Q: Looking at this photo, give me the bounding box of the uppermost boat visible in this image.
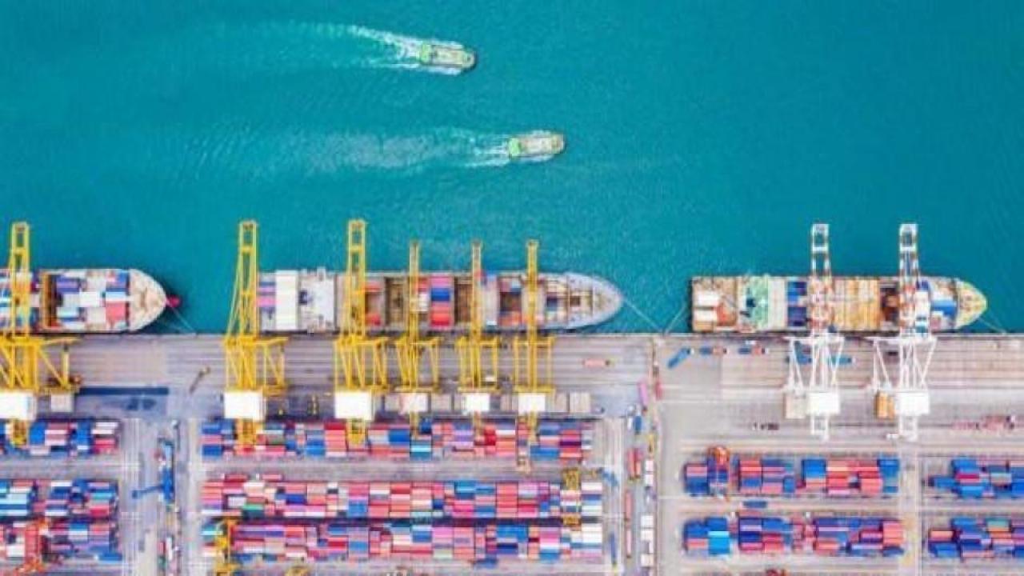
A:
[420,42,476,70]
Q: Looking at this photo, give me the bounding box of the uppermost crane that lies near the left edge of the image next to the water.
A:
[0,221,81,446]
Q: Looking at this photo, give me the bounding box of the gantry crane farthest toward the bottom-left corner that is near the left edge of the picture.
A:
[22,511,60,573]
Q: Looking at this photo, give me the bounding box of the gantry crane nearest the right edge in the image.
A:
[863,223,940,441]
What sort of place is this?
port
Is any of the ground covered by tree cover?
No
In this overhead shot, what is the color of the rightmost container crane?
white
